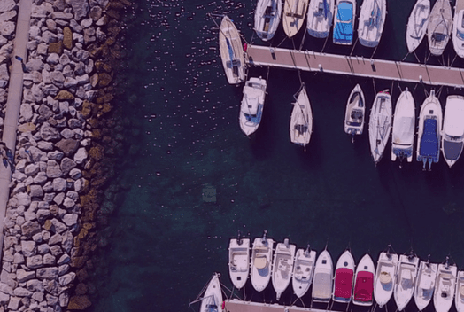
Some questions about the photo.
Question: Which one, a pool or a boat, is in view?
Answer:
boat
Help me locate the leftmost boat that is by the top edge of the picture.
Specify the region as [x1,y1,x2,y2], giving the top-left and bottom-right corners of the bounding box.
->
[214,14,249,85]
